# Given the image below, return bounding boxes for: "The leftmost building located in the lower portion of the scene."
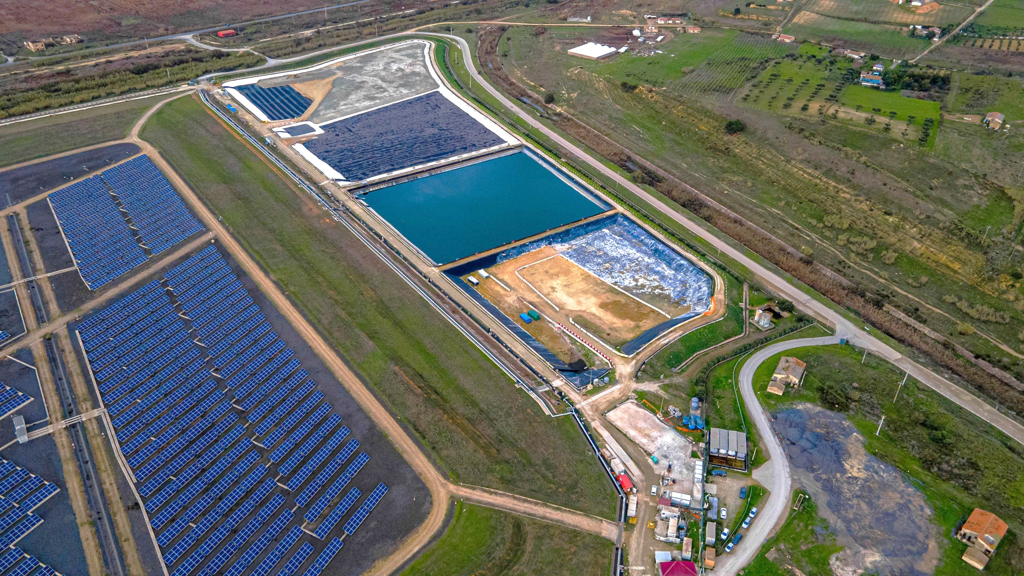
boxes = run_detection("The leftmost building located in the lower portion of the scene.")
[12,413,29,440]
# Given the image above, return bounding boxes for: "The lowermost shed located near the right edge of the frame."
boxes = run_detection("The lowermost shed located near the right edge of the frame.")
[960,547,990,574]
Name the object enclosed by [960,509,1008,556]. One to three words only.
house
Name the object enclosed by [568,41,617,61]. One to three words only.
greenhouse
